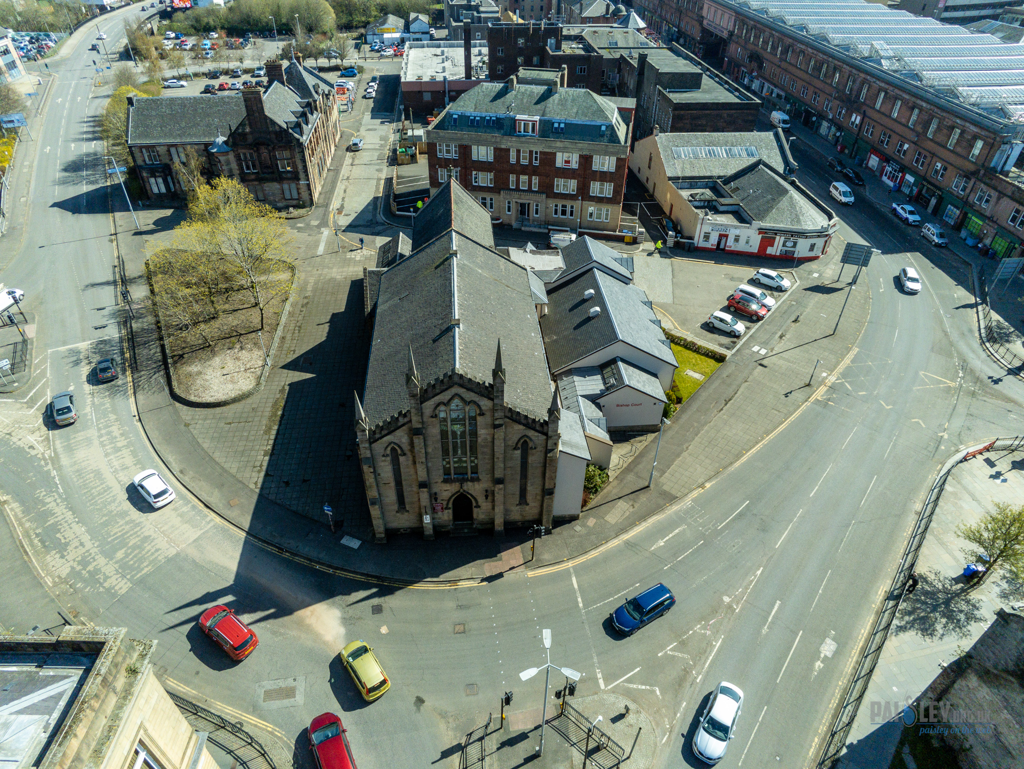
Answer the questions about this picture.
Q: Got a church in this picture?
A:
Yes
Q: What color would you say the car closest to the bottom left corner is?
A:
red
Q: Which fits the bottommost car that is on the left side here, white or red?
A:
red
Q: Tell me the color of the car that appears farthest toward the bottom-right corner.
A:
white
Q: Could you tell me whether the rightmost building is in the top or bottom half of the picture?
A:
bottom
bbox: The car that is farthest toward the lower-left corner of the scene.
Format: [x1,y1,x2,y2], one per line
[196,602,261,661]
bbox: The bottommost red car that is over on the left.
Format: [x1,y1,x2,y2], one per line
[302,707,358,769]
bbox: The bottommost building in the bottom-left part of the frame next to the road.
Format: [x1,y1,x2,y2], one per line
[0,626,232,769]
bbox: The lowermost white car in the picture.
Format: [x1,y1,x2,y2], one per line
[693,673,750,761]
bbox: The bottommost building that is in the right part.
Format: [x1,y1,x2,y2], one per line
[893,592,1024,769]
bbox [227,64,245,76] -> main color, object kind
gray vehicle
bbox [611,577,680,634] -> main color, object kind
blue car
